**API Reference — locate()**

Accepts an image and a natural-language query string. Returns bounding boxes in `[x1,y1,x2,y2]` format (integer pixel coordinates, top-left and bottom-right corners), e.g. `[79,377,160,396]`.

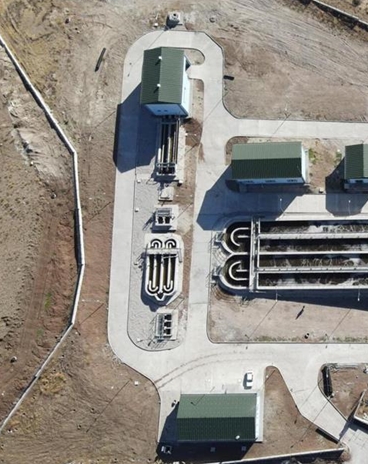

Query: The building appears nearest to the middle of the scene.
[228,141,305,185]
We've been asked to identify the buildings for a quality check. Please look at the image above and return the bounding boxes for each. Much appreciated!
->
[344,141,368,181]
[140,44,195,117]
[228,141,305,185]
[173,392,261,444]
